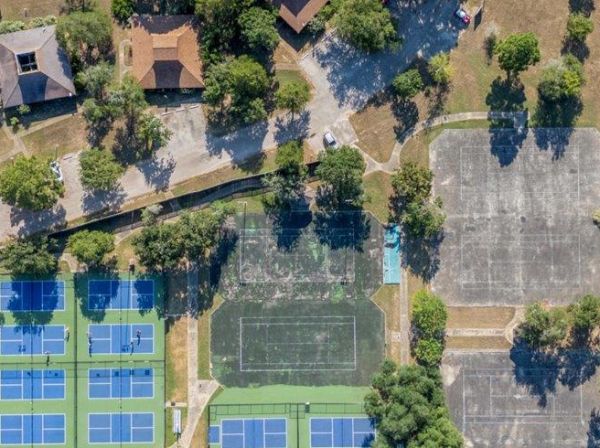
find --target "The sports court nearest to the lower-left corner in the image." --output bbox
[0,413,65,448]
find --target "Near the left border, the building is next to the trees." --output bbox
[0,27,76,108]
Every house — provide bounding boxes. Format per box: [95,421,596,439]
[132,15,205,89]
[264,0,328,33]
[0,27,76,108]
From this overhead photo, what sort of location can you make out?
sports ground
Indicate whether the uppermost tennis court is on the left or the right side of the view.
right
